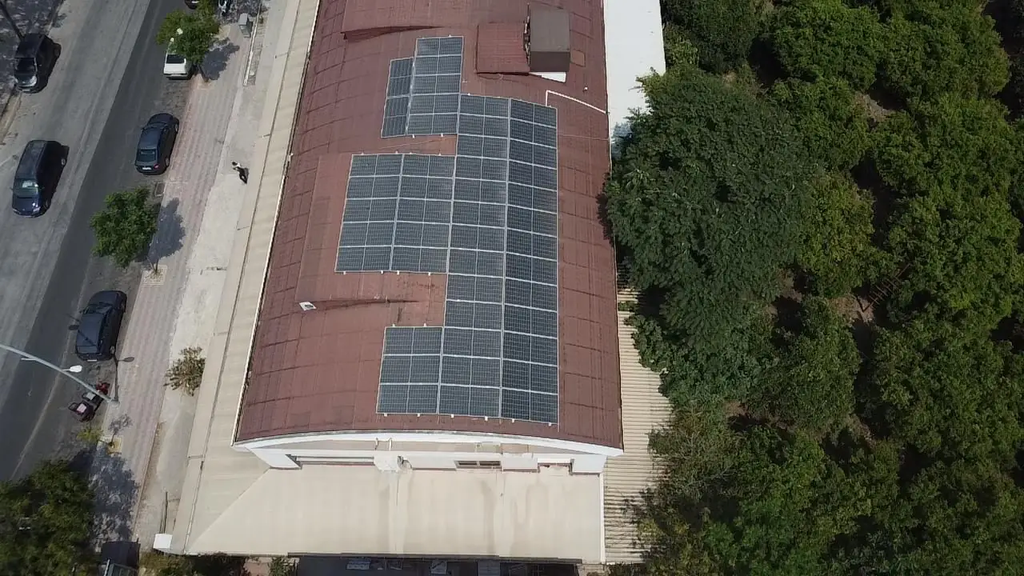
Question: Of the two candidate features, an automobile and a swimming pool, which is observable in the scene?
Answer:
automobile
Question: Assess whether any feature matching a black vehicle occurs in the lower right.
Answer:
No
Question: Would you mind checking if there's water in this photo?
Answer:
No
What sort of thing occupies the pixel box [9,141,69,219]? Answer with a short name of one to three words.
car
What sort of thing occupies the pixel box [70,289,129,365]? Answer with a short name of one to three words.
car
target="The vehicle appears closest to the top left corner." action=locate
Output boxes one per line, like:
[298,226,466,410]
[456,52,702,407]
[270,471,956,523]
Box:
[12,45,60,101]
